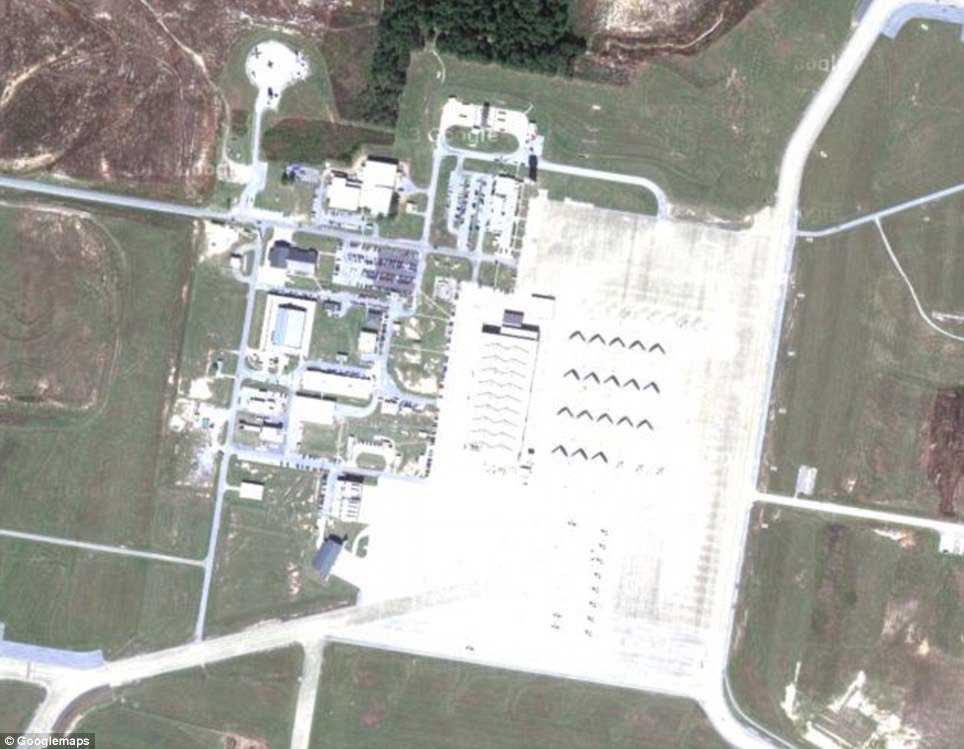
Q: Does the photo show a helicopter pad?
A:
Yes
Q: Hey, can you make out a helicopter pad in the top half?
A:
Yes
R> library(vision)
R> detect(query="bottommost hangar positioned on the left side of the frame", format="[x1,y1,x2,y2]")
[310,539,345,582]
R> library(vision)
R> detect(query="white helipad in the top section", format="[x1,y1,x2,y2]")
[245,40,310,162]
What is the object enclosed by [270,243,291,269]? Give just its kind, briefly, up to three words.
house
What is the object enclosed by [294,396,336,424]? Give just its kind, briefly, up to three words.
building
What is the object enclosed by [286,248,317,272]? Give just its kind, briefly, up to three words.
house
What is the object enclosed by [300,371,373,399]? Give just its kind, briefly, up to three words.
building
